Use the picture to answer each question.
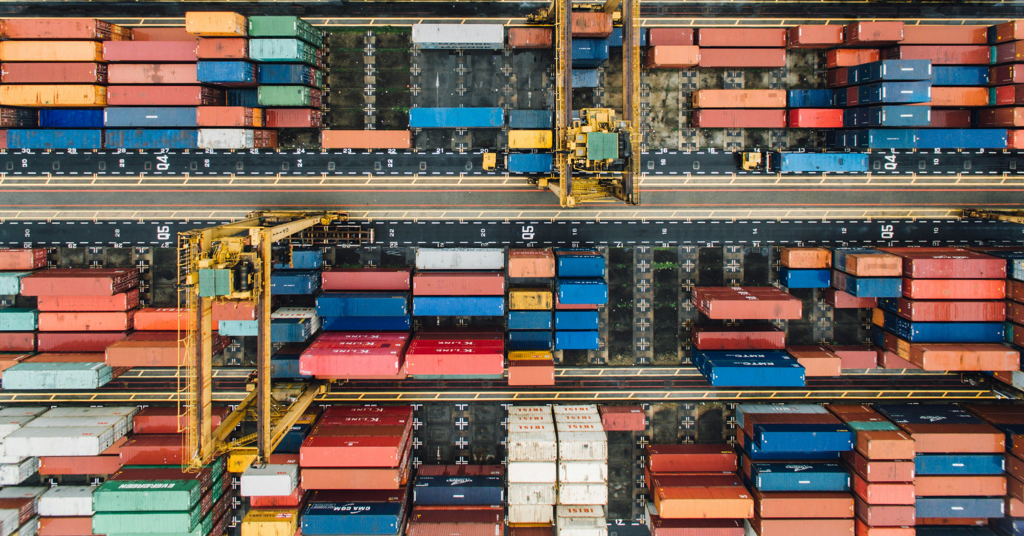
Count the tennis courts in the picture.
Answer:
0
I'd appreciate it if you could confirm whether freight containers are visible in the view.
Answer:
Yes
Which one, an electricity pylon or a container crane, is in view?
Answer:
container crane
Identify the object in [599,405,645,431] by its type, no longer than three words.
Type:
shipping container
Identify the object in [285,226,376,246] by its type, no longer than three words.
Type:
trailer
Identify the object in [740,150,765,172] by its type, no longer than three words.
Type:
work vehicle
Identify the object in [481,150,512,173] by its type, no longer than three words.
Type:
work vehicle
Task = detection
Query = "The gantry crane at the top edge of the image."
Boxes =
[519,0,646,208]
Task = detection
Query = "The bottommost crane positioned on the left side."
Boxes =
[166,207,350,473]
